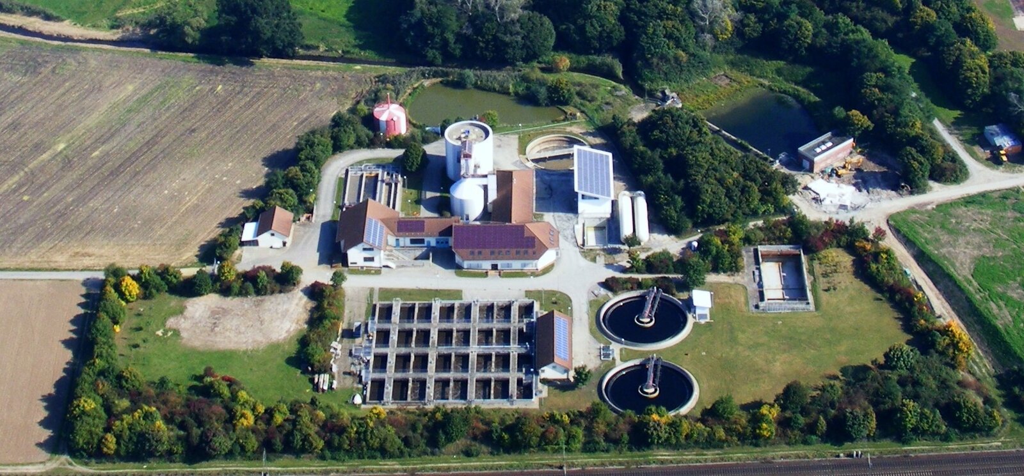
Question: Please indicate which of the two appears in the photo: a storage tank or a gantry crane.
storage tank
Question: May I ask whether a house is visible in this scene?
Yes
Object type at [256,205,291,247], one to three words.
building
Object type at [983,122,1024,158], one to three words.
shed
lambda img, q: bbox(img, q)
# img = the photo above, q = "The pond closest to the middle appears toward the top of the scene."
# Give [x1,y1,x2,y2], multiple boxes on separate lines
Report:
[410,86,566,128]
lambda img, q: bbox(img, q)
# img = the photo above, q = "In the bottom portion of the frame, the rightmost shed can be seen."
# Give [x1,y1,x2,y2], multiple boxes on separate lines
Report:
[691,291,716,323]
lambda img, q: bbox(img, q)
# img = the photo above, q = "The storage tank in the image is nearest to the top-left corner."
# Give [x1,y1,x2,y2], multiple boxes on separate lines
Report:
[372,93,408,137]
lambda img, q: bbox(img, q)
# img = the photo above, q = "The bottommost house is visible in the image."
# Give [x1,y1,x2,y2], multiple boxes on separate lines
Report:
[537,310,572,379]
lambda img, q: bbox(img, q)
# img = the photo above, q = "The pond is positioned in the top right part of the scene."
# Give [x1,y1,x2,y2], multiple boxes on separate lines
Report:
[703,92,822,160]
